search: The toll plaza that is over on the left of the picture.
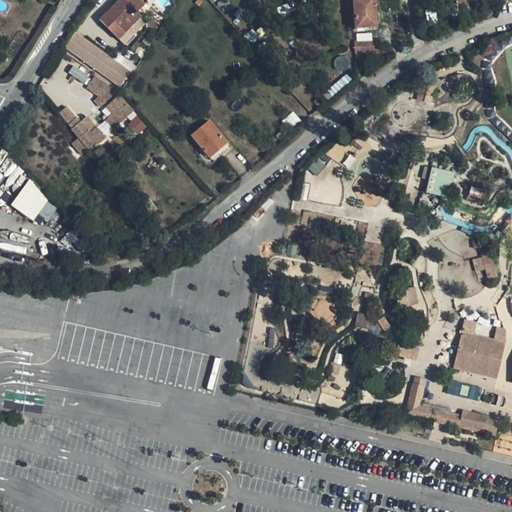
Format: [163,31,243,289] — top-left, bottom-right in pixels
[4,350,44,414]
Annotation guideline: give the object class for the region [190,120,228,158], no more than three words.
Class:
house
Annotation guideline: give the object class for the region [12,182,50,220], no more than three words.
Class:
shed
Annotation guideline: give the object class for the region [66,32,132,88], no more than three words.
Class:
barn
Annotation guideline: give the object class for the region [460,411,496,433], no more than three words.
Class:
building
